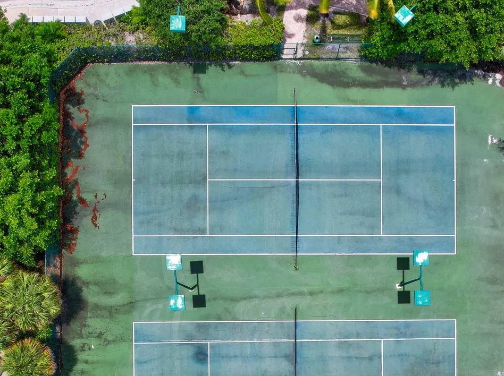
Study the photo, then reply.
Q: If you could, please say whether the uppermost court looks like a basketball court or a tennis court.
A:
tennis court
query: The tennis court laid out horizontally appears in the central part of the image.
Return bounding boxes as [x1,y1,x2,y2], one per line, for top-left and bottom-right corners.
[132,105,456,255]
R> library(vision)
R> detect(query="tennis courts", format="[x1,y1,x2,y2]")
[133,319,457,376]
[132,105,456,255]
